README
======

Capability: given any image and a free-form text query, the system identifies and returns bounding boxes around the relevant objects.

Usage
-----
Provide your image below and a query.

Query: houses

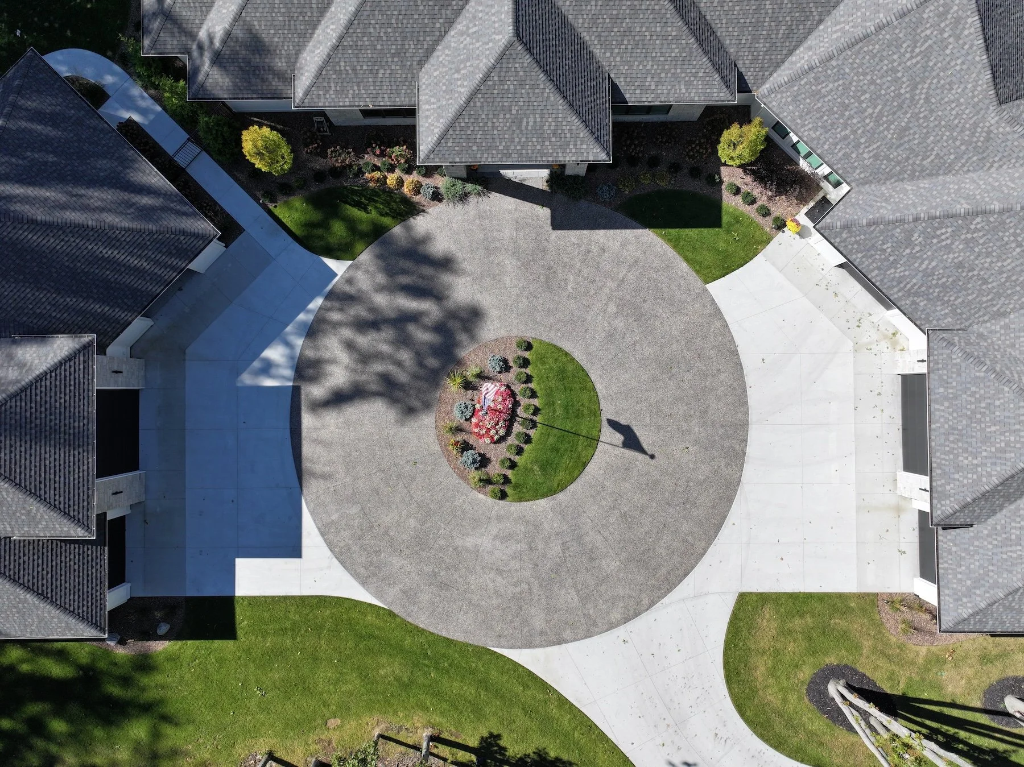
[0,49,221,639]
[141,0,1024,633]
